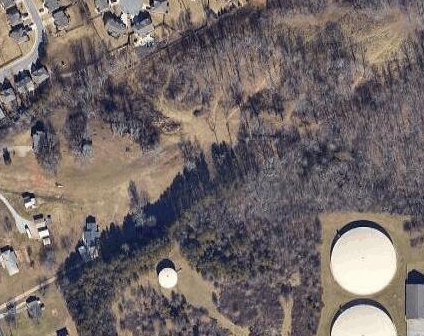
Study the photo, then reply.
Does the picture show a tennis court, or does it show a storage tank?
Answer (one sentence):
I can see a storage tank in this picture.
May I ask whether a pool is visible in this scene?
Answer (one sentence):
No, this view has no pool in it.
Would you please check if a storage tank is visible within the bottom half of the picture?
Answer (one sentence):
Yes, within the bottom half of the picture there is a storage tank.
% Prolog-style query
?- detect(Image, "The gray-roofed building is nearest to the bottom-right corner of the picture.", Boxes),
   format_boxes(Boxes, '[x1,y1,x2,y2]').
[406,284,424,319]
